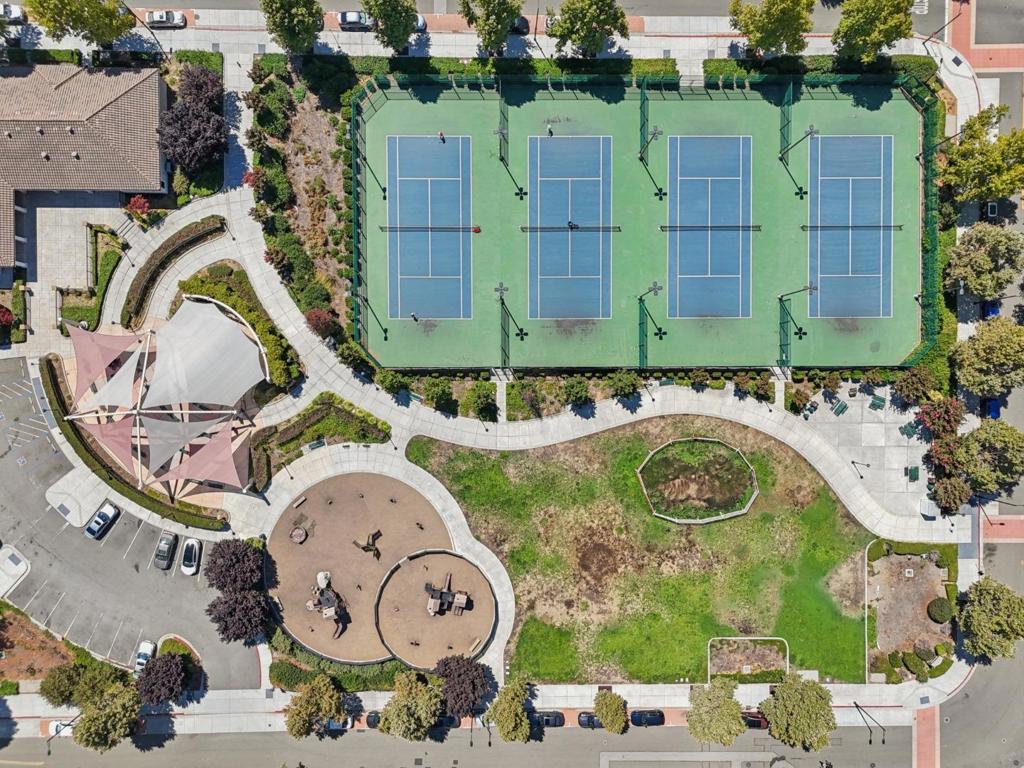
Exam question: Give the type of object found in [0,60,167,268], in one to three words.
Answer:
building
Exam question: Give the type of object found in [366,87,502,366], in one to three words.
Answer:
tennis court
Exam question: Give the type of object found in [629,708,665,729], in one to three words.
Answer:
car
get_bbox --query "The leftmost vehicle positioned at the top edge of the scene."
[0,3,30,24]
